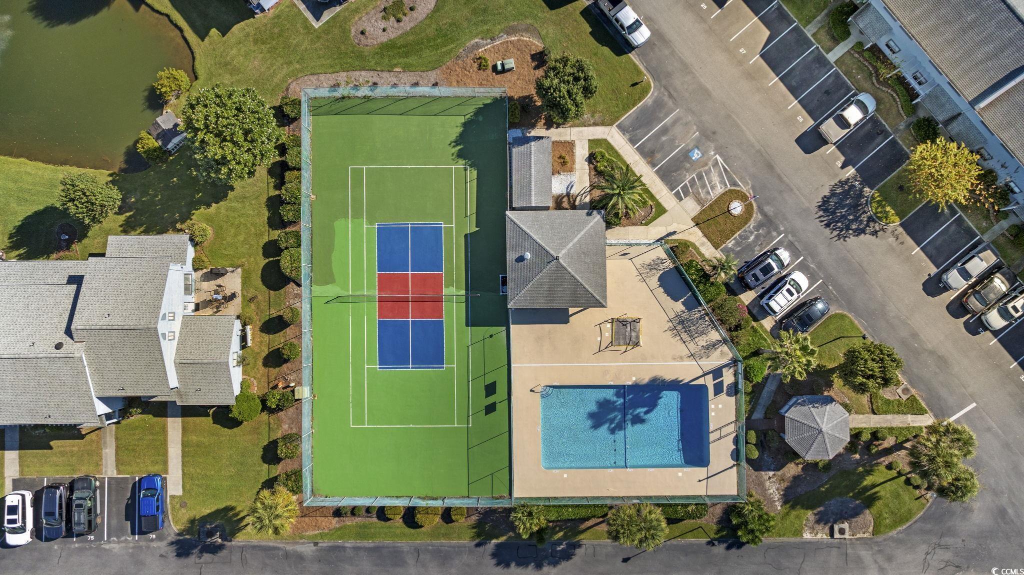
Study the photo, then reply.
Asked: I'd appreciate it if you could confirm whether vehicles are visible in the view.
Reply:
Yes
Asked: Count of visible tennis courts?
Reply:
one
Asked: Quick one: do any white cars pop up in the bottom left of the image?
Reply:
Yes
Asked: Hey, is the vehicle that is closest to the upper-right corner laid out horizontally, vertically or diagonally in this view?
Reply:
diagonally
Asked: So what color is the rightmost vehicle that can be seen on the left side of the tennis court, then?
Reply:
blue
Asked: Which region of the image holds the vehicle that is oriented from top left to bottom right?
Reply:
top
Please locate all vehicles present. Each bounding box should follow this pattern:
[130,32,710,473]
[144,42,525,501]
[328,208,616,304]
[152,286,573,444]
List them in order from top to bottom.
[590,0,647,53]
[815,94,875,147]
[937,242,997,292]
[737,247,787,290]
[960,269,1011,313]
[759,272,807,314]
[977,284,1024,330]
[780,294,830,336]
[138,472,168,531]
[71,475,102,532]
[42,481,72,536]
[3,490,35,543]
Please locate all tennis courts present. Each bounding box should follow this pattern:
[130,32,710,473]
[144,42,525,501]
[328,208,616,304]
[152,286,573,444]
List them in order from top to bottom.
[310,96,511,498]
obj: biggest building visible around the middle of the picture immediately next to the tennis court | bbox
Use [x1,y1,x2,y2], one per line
[506,209,607,308]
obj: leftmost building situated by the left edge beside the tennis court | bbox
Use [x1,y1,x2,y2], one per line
[0,235,242,425]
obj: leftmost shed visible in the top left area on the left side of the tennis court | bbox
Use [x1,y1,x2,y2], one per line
[148,110,199,163]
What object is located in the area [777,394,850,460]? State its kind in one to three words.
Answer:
gazebo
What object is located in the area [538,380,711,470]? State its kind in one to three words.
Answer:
swimming pool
